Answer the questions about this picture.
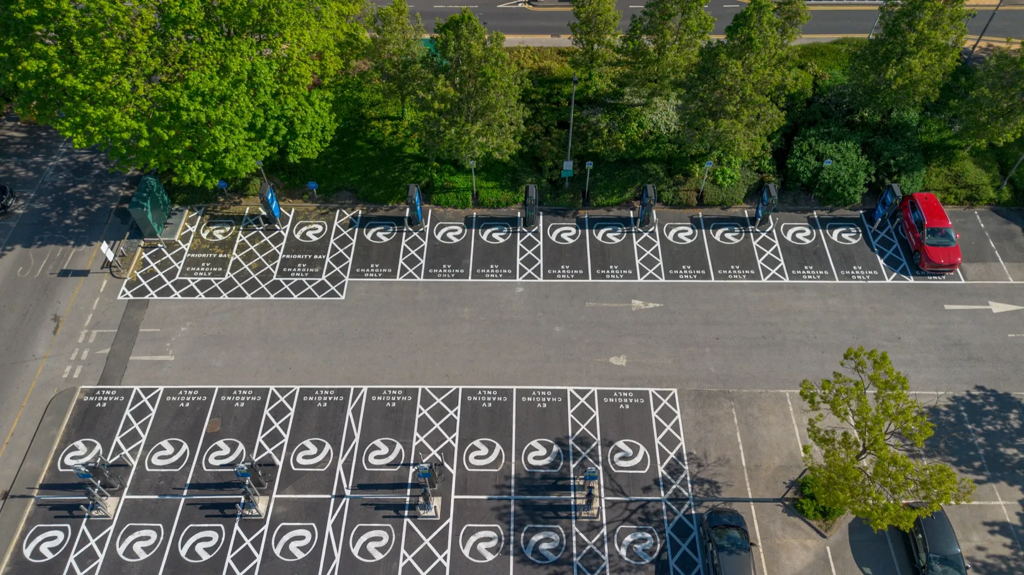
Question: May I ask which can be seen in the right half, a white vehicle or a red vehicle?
red vehicle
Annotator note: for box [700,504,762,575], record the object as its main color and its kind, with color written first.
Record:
black car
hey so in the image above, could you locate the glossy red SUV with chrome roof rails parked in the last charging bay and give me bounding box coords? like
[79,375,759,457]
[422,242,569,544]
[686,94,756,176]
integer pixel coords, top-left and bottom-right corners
[896,196,960,274]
